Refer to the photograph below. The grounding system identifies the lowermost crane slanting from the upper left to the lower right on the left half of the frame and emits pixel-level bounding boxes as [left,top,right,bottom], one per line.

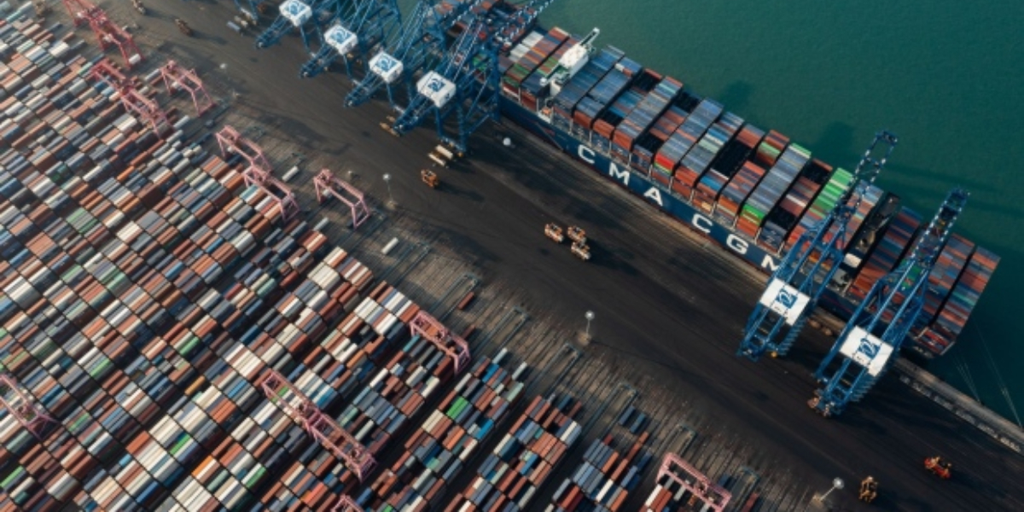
[308,411,378,483]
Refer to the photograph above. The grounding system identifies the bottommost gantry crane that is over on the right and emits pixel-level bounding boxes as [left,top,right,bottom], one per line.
[652,452,728,512]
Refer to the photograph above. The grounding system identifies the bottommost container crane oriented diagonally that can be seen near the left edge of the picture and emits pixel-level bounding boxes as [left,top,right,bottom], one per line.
[0,372,61,441]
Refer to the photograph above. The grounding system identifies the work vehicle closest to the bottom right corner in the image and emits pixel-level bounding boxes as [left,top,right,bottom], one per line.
[927,456,957,482]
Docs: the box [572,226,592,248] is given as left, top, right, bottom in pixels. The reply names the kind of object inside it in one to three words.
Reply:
work vehicle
